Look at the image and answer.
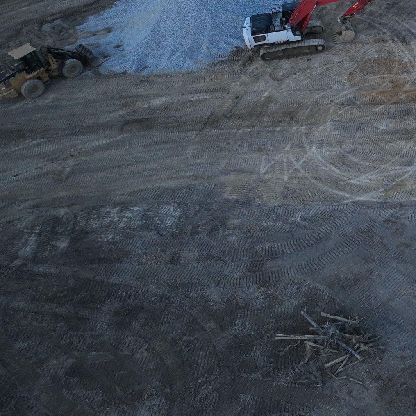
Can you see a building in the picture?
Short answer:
No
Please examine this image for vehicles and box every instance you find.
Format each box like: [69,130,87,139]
[245,0,376,57]
[0,39,112,106]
